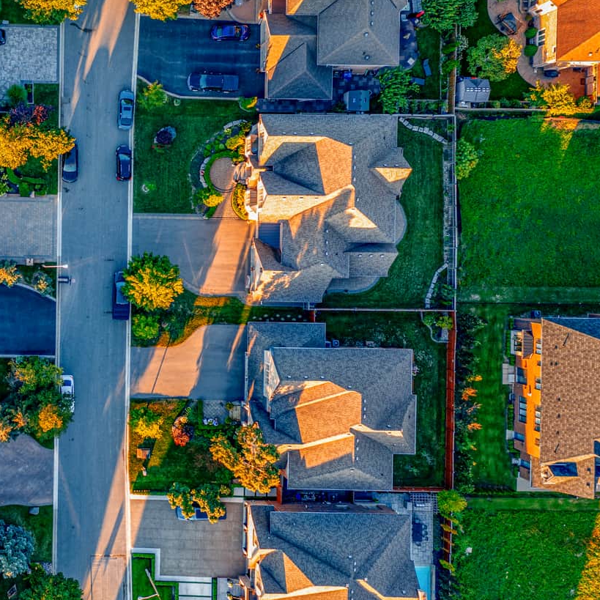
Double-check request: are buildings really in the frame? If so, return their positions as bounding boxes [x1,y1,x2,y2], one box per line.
[246,113,412,303]
[341,89,372,112]
[451,79,495,102]
[508,318,600,500]
[243,499,429,600]
[259,0,409,102]
[244,322,417,490]
[519,0,600,109]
